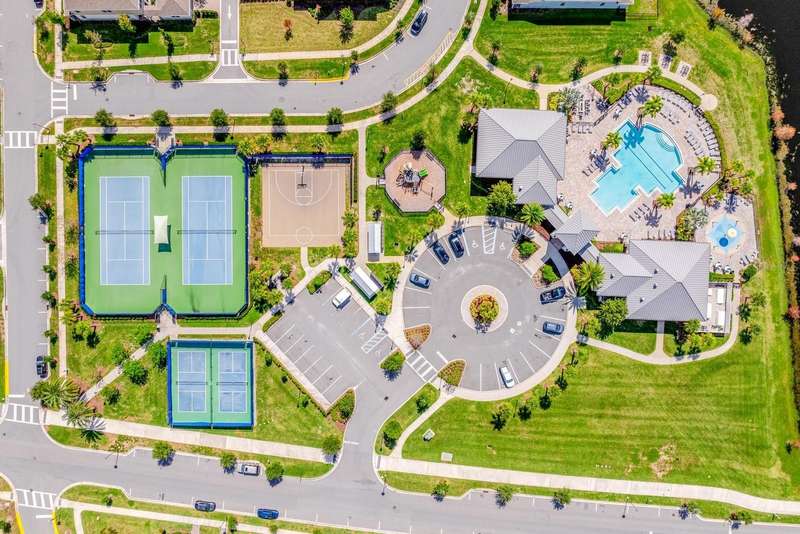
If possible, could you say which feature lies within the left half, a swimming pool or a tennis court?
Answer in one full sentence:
What appears within the left half is a tennis court.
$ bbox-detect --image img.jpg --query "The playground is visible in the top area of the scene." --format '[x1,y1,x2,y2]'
[384,150,447,212]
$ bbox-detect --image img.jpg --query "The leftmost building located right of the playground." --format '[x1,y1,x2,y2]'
[478,110,566,205]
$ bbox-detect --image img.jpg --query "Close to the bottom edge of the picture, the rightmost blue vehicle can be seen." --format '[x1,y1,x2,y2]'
[256,507,279,520]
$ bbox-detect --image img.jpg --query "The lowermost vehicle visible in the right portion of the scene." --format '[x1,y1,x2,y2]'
[498,365,513,387]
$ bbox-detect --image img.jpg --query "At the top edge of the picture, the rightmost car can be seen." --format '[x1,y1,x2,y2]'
[411,10,429,34]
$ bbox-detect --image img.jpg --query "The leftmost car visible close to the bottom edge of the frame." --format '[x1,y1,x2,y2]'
[194,499,217,512]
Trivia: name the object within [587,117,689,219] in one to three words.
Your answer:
swimming pool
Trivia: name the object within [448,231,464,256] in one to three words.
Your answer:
car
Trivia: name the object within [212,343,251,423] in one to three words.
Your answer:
sports court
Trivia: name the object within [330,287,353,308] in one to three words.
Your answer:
vehicle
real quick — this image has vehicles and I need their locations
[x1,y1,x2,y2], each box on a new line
[411,10,429,34]
[541,322,563,333]
[36,354,49,379]
[538,287,565,303]
[448,231,464,256]
[409,274,431,287]
[431,241,449,263]
[330,287,353,308]
[498,365,513,387]
[256,507,279,520]
[194,499,217,512]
